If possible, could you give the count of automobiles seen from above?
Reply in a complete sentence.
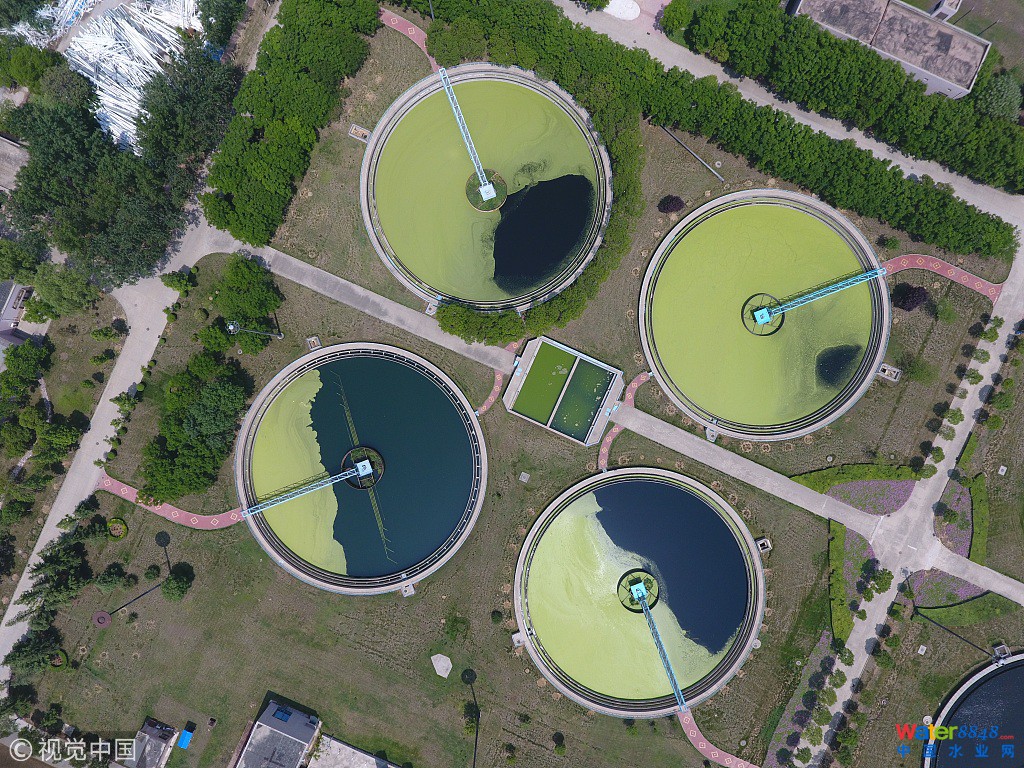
The picture shows no automobiles.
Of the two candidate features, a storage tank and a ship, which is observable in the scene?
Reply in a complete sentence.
There is a storage tank in the scene.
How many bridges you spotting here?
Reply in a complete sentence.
In total, there are 4 bridges in the scene.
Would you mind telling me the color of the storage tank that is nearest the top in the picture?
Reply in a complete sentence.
The color of the storage tank that is nearest the top is green.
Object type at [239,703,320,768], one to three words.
house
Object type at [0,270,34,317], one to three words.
house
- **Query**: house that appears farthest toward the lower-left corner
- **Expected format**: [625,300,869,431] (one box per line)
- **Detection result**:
[122,718,178,768]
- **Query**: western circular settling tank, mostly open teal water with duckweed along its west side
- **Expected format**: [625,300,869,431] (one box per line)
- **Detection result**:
[235,343,487,595]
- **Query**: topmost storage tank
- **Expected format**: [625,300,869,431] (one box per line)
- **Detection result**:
[362,60,612,313]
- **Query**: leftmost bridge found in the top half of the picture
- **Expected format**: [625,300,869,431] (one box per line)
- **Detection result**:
[437,65,487,185]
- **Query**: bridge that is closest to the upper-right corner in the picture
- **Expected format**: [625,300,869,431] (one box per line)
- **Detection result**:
[771,267,887,315]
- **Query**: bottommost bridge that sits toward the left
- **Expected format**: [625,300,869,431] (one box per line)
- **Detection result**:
[240,467,358,518]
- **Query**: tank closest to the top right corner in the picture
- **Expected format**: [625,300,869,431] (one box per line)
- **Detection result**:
[636,188,893,441]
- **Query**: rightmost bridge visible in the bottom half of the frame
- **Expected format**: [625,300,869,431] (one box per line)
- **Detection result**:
[638,598,689,714]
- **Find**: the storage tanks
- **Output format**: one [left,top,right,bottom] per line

[916,650,1024,768]
[636,188,893,441]
[513,466,766,719]
[362,60,612,313]
[235,343,487,595]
